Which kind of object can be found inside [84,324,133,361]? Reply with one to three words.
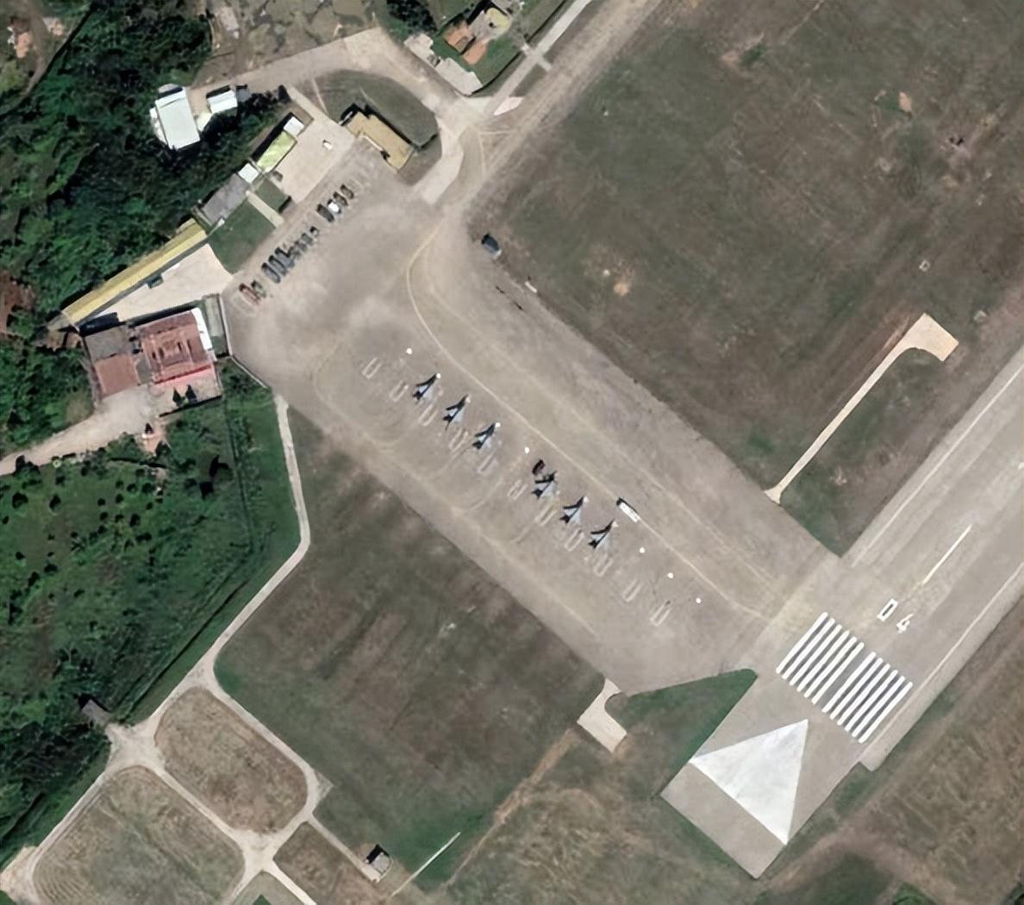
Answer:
house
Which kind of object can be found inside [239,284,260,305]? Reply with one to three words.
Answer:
truck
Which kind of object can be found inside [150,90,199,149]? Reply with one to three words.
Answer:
shed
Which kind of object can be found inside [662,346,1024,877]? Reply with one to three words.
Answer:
runway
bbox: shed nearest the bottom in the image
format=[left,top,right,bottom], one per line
[363,854,392,879]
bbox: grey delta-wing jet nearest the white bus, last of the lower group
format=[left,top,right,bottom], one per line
[589,521,614,550]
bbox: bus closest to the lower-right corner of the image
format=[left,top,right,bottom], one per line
[618,502,641,523]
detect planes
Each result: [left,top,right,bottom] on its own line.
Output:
[472,424,498,455]
[413,376,438,405]
[559,496,586,528]
[443,395,469,425]
[589,521,614,550]
[531,472,556,502]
